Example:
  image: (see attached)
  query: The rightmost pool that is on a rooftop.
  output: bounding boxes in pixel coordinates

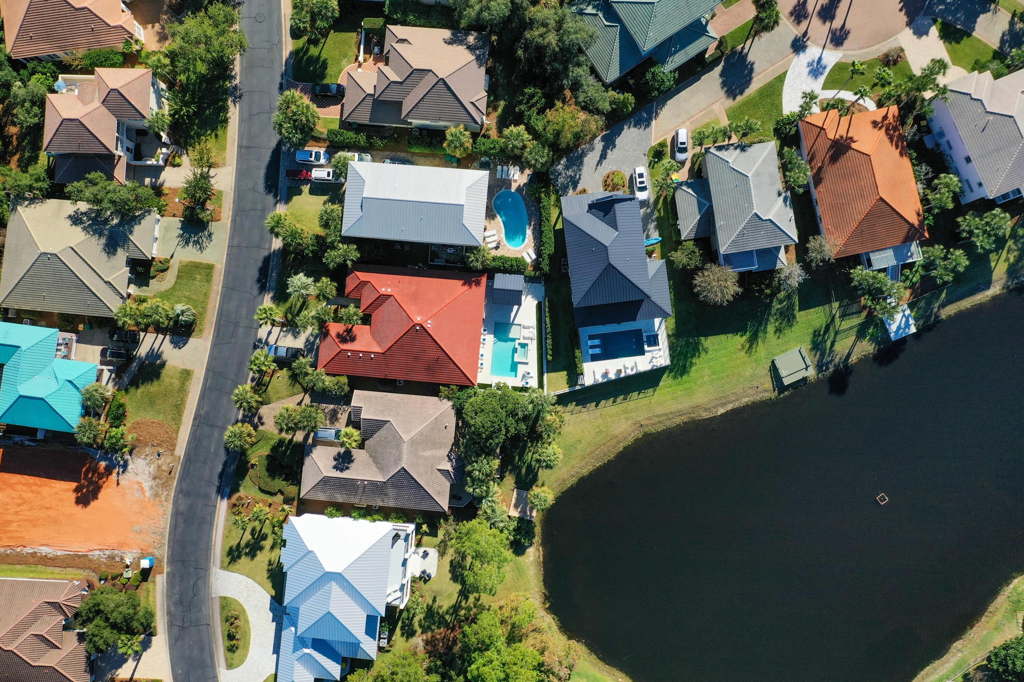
[588,329,662,362]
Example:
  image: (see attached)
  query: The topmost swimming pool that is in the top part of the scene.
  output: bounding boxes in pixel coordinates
[491,188,531,250]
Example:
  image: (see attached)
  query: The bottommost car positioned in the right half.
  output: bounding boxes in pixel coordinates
[632,166,650,203]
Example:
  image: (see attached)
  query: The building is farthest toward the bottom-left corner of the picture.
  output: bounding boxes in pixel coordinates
[0,578,92,682]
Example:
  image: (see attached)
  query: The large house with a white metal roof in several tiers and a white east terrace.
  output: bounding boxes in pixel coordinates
[277,509,417,682]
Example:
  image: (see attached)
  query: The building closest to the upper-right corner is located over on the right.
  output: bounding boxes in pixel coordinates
[915,67,1024,203]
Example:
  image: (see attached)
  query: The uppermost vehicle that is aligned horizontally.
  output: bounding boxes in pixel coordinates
[311,81,346,98]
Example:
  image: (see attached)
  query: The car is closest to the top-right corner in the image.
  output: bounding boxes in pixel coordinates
[673,128,689,163]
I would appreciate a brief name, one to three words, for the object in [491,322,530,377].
swimming pool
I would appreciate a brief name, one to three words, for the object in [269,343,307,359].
vehicle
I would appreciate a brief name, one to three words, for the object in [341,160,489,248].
house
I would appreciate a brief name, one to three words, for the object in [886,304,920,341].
pier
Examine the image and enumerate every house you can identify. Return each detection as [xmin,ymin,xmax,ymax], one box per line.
[317,263,487,386]
[0,578,92,682]
[0,321,124,441]
[300,390,474,512]
[1,0,148,67]
[277,509,417,682]
[915,67,1024,203]
[789,104,929,283]
[567,0,721,85]
[42,67,169,185]
[674,140,798,272]
[560,192,672,387]
[341,160,489,248]
[342,24,491,132]
[0,196,162,317]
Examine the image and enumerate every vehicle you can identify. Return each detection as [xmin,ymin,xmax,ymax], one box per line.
[295,149,331,166]
[632,166,650,203]
[313,427,344,443]
[283,166,312,182]
[673,128,689,163]
[109,327,144,343]
[381,157,413,165]
[337,149,375,162]
[269,343,307,359]
[311,81,346,98]
[311,167,346,184]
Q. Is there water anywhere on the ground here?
Yes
